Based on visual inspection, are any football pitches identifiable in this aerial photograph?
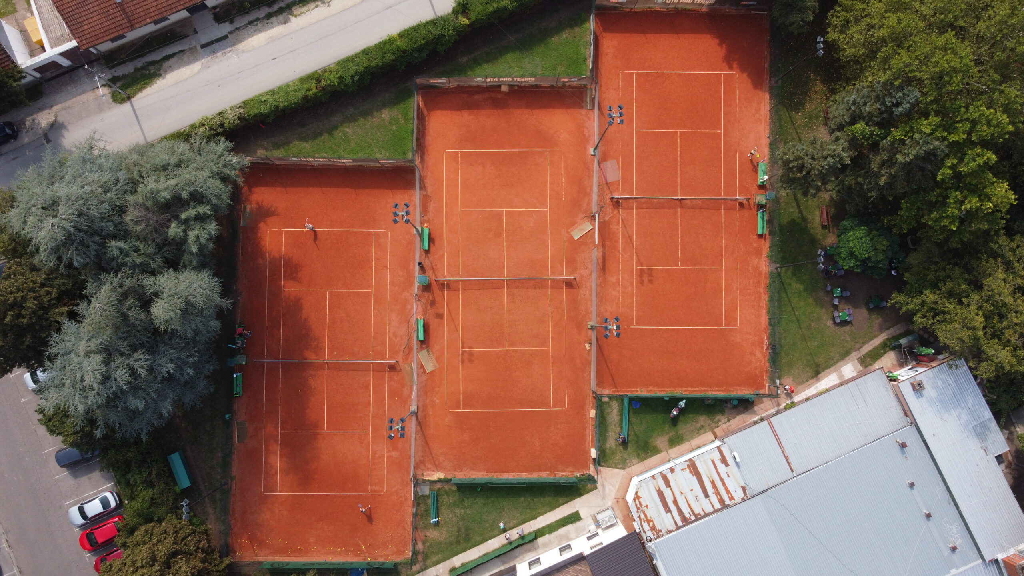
No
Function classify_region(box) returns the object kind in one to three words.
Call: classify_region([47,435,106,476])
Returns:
vehicle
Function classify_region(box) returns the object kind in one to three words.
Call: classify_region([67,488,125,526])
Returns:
car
